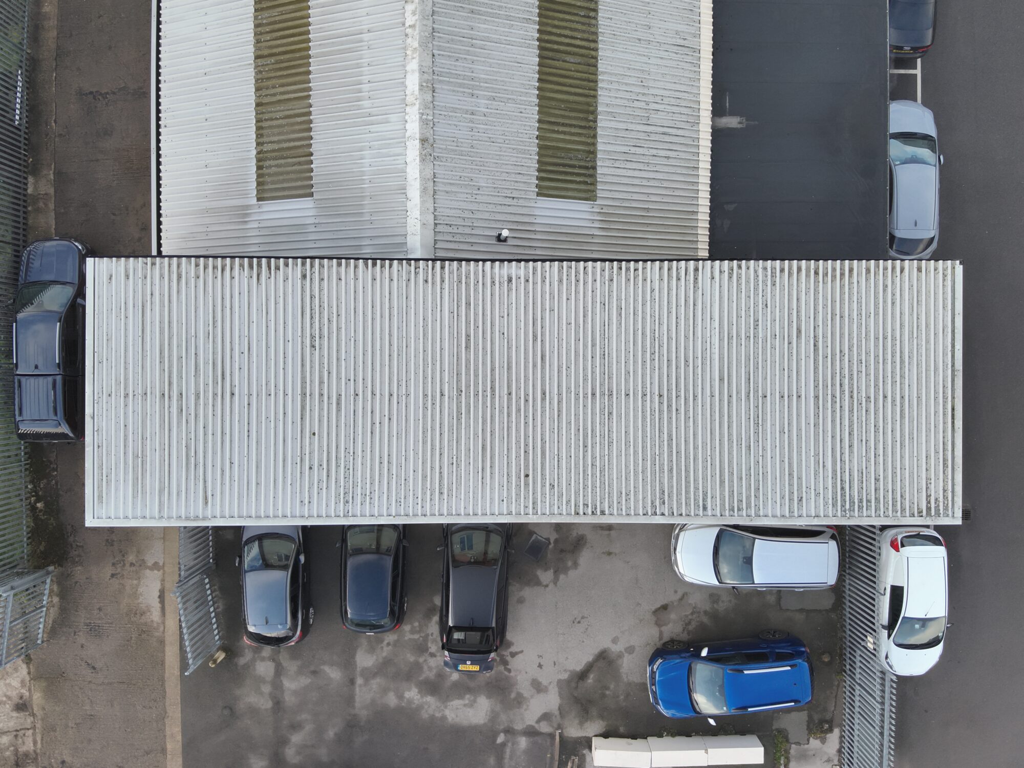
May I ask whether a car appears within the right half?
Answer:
Yes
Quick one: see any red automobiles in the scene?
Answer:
No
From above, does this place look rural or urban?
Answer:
urban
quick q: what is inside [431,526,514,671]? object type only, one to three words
car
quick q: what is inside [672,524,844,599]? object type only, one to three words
car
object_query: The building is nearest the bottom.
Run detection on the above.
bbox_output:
[86,254,963,528]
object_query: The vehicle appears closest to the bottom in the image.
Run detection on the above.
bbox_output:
[647,630,817,729]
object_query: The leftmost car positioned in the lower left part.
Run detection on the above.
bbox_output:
[227,527,317,648]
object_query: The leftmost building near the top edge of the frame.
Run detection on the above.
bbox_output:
[152,0,715,257]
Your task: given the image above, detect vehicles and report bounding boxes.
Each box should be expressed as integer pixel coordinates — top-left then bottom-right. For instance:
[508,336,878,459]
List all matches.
[431,526,514,671]
[227,527,317,648]
[0,237,103,442]
[329,527,413,634]
[889,99,949,258]
[867,528,956,676]
[647,630,817,729]
[890,0,937,58]
[672,524,844,599]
